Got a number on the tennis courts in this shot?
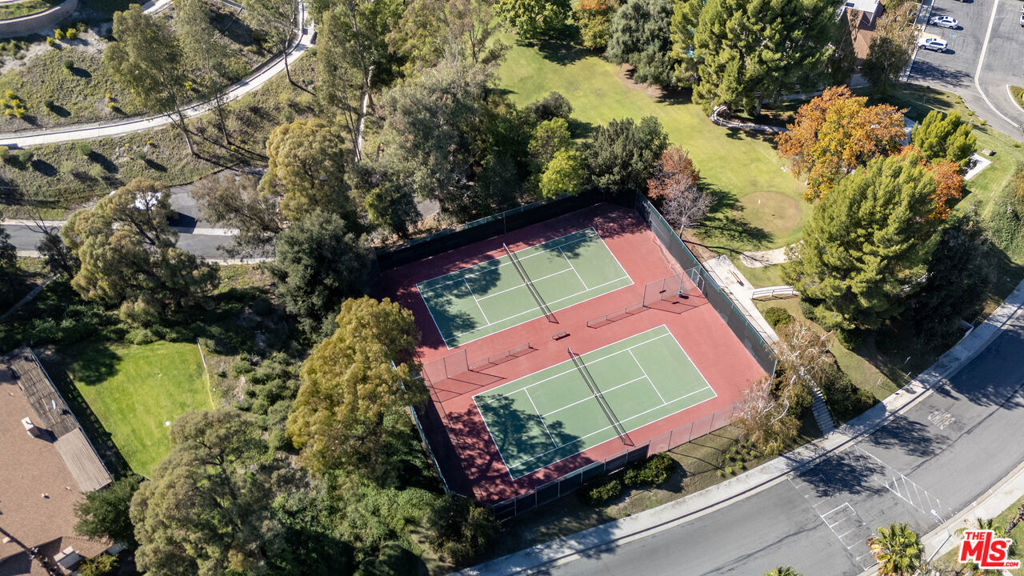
2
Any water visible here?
No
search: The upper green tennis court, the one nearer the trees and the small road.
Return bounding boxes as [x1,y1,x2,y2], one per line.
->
[417,227,634,350]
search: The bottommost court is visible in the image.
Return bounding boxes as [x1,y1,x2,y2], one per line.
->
[472,325,717,480]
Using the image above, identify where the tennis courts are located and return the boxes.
[417,227,634,350]
[472,325,717,480]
